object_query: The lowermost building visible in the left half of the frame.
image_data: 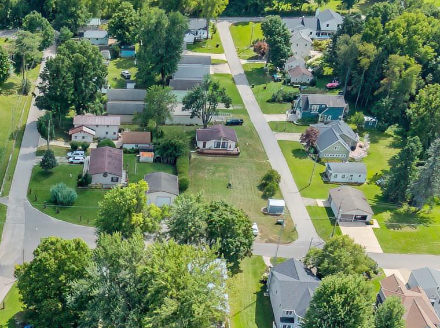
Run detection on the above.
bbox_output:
[144,170,180,205]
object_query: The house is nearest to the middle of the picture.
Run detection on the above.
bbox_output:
[195,126,241,158]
